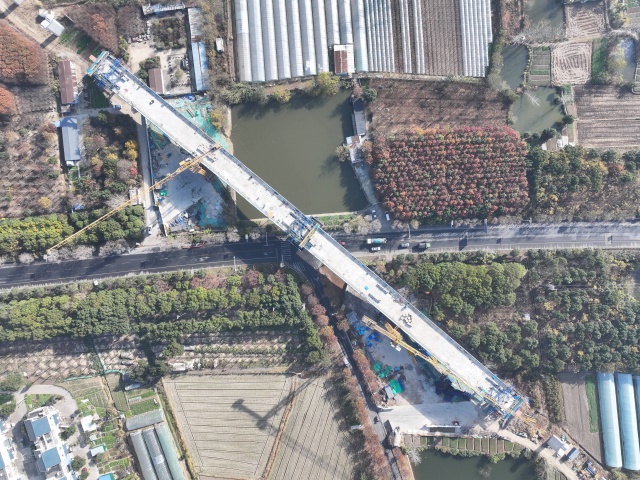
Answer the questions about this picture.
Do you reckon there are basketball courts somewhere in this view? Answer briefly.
No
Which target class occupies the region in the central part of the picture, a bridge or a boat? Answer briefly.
bridge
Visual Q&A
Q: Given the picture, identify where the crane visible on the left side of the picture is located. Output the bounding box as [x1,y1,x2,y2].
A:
[46,142,226,254]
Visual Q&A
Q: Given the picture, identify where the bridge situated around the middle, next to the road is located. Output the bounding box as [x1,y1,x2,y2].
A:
[93,53,521,416]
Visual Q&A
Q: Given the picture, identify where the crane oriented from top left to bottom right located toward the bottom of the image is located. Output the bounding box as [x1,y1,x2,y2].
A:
[362,311,507,413]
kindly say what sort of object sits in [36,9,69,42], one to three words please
building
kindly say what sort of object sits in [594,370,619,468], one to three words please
greenhouse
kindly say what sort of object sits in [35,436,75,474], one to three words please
house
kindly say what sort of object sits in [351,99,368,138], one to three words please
shed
